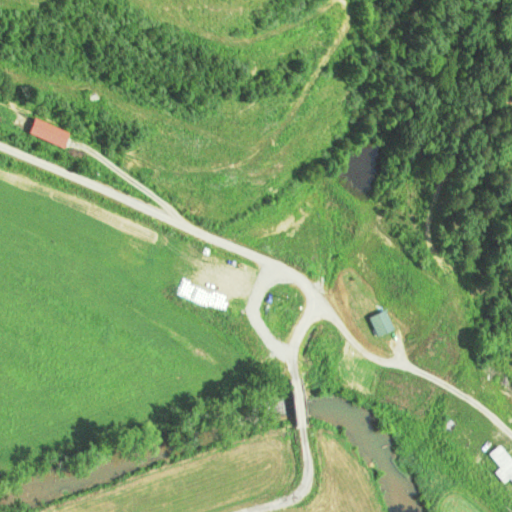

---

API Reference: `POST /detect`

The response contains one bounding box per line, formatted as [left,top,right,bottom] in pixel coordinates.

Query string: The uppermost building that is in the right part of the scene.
[370,310,394,336]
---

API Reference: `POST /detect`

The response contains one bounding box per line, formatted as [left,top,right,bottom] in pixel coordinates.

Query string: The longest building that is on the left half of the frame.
[30,118,72,148]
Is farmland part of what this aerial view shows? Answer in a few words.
Yes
